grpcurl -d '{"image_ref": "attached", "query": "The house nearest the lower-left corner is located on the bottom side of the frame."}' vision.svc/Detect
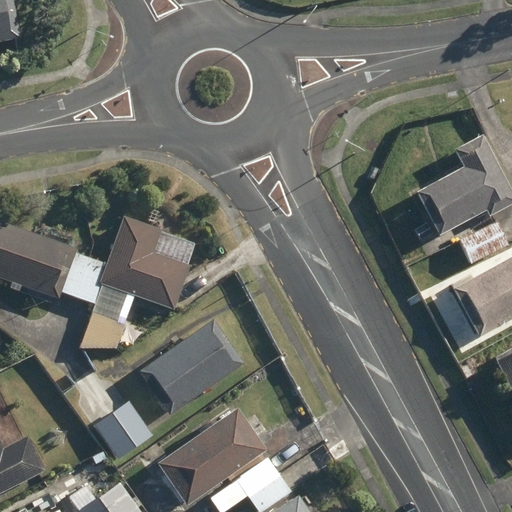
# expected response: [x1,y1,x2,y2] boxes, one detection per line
[0,436,46,495]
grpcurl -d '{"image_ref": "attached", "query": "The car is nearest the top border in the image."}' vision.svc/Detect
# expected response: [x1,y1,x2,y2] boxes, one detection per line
[180,274,210,299]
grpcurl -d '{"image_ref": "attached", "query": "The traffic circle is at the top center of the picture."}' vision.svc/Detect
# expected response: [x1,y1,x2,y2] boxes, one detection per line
[174,46,254,126]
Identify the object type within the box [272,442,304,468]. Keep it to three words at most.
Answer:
car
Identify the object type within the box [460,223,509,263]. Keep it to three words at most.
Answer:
shed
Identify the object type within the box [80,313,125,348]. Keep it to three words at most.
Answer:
building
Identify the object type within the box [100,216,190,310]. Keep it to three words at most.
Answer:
house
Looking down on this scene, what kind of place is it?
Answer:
residential area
